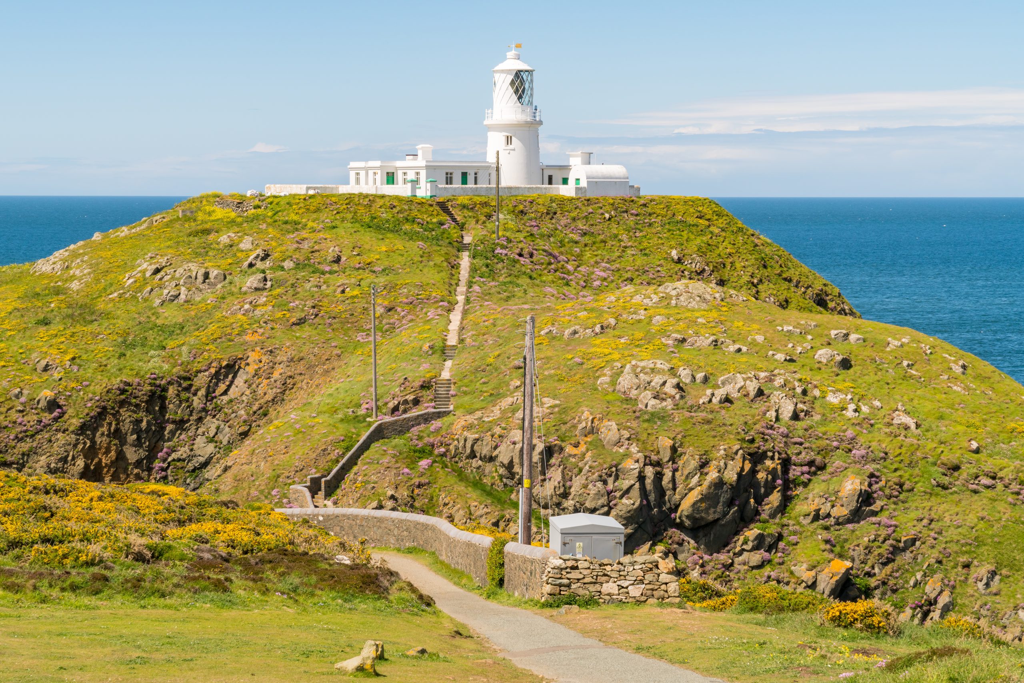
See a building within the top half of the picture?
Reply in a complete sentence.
Yes, a building appears within the top half of the picture.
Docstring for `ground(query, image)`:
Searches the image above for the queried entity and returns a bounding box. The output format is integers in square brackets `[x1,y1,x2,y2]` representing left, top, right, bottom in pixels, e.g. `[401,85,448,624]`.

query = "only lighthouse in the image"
[484,43,544,185]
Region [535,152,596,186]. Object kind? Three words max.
building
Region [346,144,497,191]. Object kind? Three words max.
house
